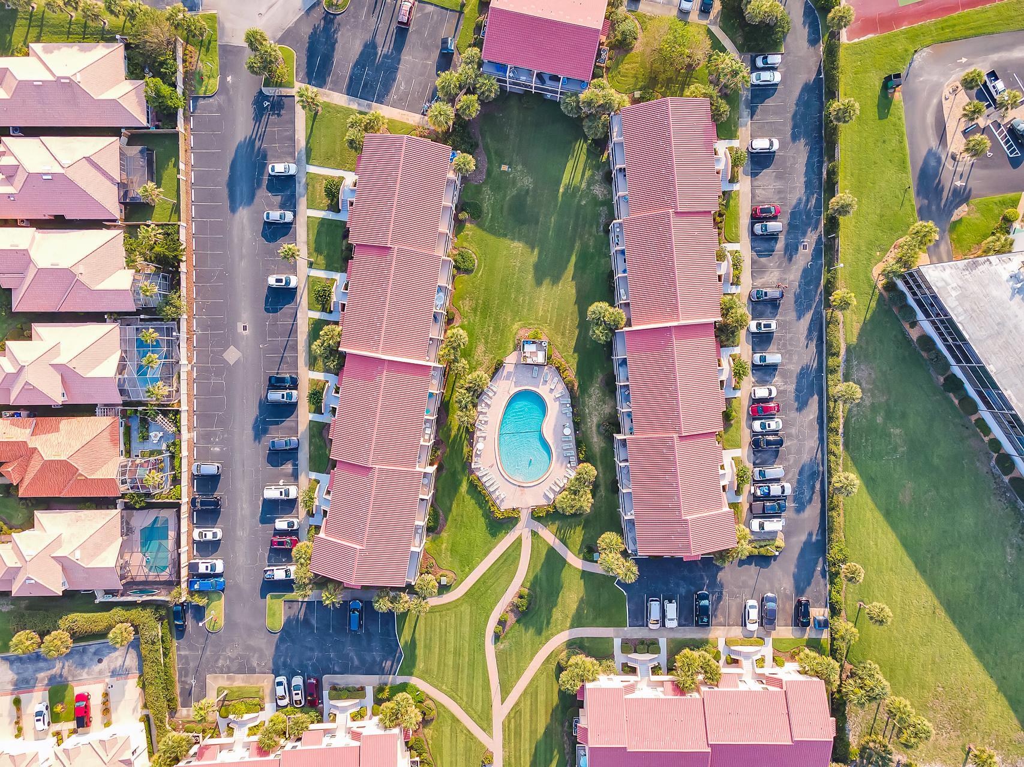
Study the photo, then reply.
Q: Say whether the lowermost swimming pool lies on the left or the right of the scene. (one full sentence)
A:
The lowermost swimming pool is on the left side of the image.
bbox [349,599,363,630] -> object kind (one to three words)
car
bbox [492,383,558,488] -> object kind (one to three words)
swimming pool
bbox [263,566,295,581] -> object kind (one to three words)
vehicle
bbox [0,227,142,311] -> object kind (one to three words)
house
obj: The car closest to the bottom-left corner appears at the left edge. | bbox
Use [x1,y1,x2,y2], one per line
[34,701,53,732]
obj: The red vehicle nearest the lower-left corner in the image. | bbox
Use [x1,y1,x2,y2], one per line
[75,691,93,724]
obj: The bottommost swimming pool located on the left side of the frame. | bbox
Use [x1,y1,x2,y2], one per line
[139,516,169,573]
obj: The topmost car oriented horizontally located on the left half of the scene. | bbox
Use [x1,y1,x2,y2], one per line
[268,163,299,177]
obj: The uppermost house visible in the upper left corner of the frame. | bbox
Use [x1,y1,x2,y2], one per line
[0,42,152,130]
